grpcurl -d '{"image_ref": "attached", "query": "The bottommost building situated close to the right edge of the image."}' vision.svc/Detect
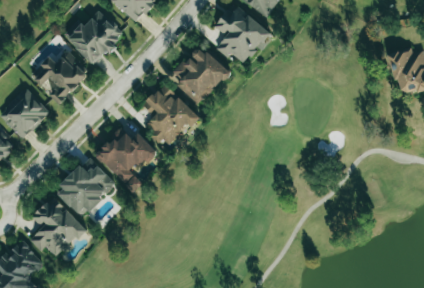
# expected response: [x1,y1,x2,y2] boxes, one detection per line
[386,46,424,96]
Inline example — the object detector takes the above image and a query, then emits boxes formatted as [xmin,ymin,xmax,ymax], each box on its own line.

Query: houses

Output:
[0,242,42,288]
[65,14,121,64]
[172,46,230,104]
[30,203,85,259]
[58,158,113,216]
[146,85,199,148]
[242,0,278,18]
[214,4,272,66]
[386,46,424,96]
[96,128,155,186]
[113,0,156,22]
[0,86,46,138]
[36,50,86,106]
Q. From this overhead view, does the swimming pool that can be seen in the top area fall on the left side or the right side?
left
